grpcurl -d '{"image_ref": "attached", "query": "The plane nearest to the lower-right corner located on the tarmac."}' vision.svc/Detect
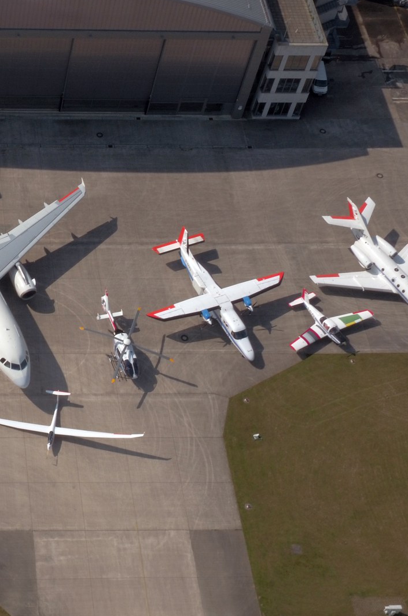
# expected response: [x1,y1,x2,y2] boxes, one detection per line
[289,289,372,352]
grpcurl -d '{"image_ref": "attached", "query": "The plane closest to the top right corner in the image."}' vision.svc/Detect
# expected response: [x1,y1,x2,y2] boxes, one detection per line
[312,197,408,305]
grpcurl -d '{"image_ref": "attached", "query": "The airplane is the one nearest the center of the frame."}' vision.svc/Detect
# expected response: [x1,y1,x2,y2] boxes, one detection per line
[144,229,281,361]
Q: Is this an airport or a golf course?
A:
airport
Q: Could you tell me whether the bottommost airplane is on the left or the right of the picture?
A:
left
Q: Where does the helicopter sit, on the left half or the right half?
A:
left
